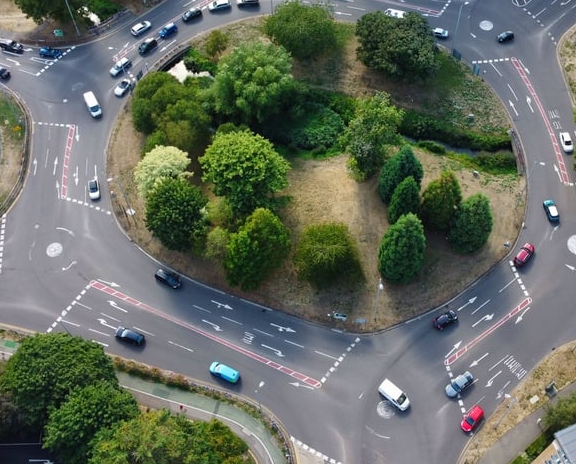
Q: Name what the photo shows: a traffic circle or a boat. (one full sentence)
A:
It is a traffic circle that can be seen here.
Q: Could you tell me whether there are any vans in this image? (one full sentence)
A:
Yes, this view includes a van.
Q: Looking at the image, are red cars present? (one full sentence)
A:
Yes, there is a red car in the image.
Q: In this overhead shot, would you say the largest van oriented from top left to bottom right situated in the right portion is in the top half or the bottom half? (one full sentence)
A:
It is in the bottom half that the largest van oriented from top left to bottom right situated in the right portion appears.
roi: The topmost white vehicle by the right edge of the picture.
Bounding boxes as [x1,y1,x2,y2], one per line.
[558,132,574,153]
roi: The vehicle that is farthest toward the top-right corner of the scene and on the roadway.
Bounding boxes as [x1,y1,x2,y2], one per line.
[494,29,516,44]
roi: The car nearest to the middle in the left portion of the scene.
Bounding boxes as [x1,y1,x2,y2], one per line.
[152,268,185,290]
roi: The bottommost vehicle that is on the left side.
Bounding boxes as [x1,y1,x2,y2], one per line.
[208,362,241,384]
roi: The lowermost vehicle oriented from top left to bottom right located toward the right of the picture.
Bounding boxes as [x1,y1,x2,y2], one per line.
[374,374,413,414]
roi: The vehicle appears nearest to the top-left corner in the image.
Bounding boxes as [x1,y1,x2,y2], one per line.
[0,39,25,54]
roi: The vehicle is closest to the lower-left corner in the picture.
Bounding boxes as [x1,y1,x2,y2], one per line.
[114,327,148,348]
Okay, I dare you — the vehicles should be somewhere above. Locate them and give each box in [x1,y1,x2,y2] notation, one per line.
[428,26,450,39]
[108,57,134,76]
[158,22,180,38]
[152,268,185,290]
[38,46,62,58]
[0,64,14,78]
[114,327,148,348]
[111,76,135,97]
[208,362,241,384]
[136,35,161,54]
[130,21,152,35]
[182,6,203,21]
[558,132,574,153]
[82,88,103,118]
[514,243,536,268]
[443,370,475,397]
[374,374,413,414]
[207,0,232,12]
[87,177,102,201]
[431,309,460,330]
[543,199,560,223]
[494,29,516,44]
[236,0,260,7]
[0,39,25,54]
[457,401,488,434]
